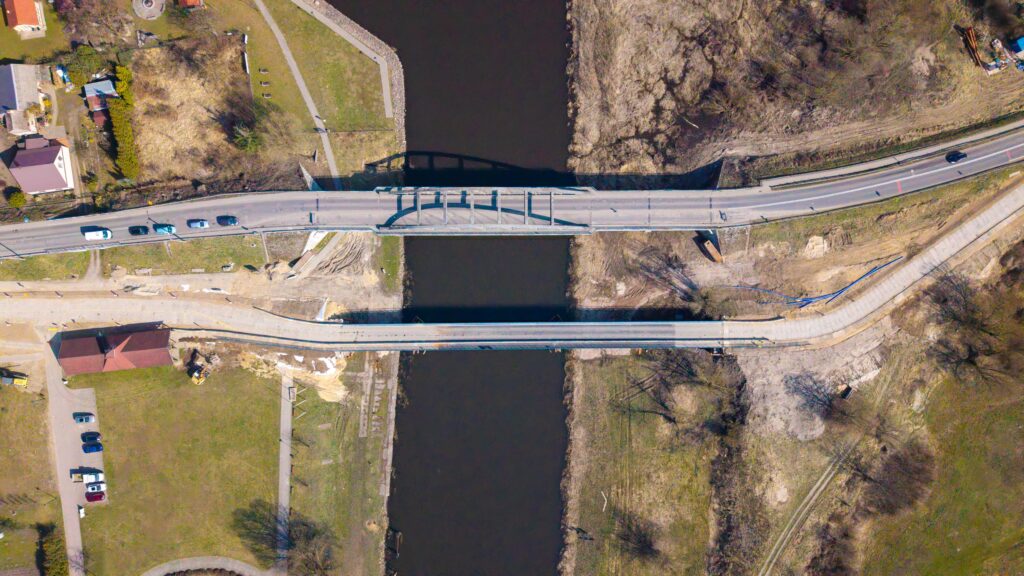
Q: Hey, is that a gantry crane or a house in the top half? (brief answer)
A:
house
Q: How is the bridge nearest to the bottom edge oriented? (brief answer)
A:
from left to right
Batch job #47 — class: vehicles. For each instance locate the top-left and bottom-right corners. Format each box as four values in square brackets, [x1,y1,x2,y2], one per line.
[217,215,240,227]
[189,219,210,230]
[87,492,108,503]
[74,415,96,425]
[0,377,27,388]
[82,443,104,454]
[945,151,968,165]
[82,433,103,444]
[157,223,178,235]
[87,483,108,494]
[79,473,106,484]
[83,228,115,242]
[129,225,150,236]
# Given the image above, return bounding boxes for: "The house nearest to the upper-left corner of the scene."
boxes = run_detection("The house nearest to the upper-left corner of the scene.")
[3,0,50,39]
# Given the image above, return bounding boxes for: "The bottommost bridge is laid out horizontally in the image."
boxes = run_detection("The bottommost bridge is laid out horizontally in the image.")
[318,300,757,353]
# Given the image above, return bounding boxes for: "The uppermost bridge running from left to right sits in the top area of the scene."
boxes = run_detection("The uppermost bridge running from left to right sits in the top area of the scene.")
[299,157,723,255]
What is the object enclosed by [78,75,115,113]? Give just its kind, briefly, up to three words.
shed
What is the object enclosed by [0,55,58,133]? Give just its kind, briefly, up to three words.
house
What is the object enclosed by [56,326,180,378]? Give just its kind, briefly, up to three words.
barn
